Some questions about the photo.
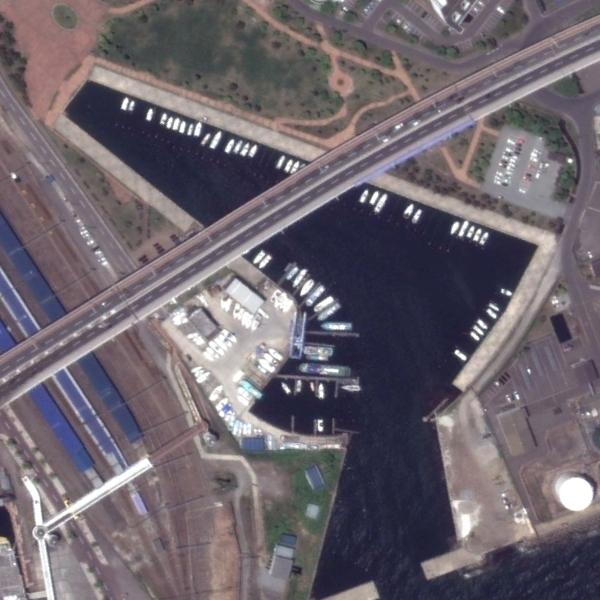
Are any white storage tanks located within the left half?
No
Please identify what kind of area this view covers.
port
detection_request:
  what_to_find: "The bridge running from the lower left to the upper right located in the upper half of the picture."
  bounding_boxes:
[0,14,600,406]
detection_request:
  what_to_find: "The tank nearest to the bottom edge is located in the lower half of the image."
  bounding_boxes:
[556,472,593,508]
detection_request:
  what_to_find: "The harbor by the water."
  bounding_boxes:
[56,67,561,600]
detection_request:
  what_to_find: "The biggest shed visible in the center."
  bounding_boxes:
[225,276,264,315]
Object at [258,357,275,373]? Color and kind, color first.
white boat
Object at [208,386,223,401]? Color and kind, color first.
white boat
